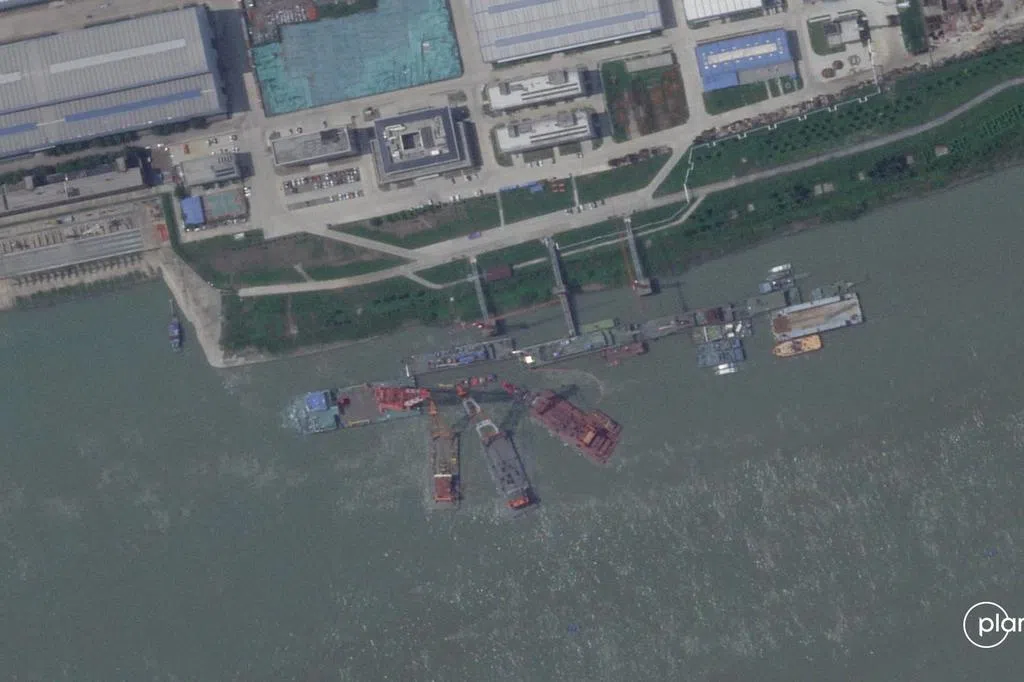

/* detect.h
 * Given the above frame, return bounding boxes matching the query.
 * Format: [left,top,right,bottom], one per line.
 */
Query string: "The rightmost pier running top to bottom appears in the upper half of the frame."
[623,218,654,297]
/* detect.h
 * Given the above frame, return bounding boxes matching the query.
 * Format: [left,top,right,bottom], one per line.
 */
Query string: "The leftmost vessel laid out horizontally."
[284,361,447,434]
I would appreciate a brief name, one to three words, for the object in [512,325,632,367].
pier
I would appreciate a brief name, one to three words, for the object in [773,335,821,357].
boat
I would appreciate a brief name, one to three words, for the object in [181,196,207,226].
shed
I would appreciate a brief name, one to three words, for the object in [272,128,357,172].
building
